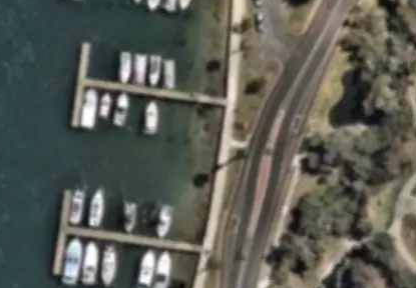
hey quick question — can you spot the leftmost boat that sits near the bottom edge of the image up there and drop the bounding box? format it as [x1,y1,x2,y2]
[63,238,81,287]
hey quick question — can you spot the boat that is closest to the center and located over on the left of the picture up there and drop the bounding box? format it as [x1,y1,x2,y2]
[145,101,157,137]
